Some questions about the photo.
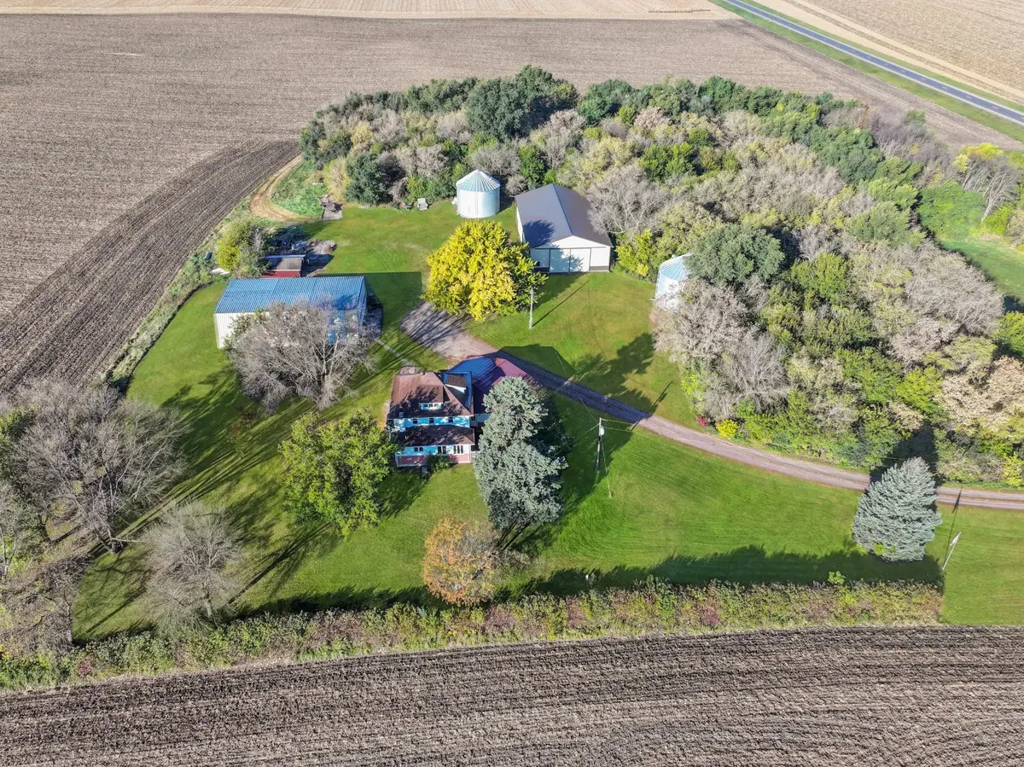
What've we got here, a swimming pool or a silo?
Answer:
silo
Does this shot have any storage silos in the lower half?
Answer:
No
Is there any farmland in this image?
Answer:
Yes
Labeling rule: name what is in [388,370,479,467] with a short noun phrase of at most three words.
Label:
house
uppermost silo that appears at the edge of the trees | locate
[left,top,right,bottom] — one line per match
[456,168,501,218]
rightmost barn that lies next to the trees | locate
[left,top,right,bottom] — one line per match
[517,184,614,274]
